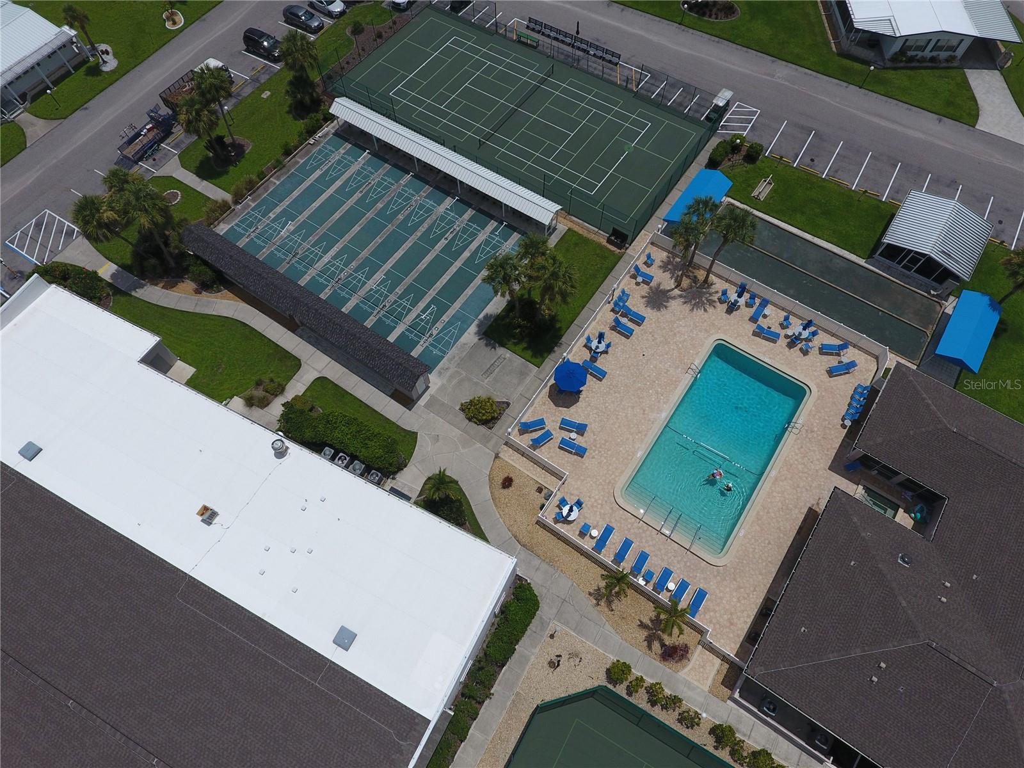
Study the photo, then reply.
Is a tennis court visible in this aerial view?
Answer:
Yes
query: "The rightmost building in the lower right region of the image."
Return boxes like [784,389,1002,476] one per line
[727,360,1024,768]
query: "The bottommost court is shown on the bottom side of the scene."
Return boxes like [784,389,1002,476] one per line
[496,688,735,768]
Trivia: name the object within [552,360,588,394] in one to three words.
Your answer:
umbrella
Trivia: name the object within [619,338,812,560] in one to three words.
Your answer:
swimming pool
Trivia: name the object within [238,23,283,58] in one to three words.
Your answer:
car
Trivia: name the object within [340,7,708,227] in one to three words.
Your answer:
tennis court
